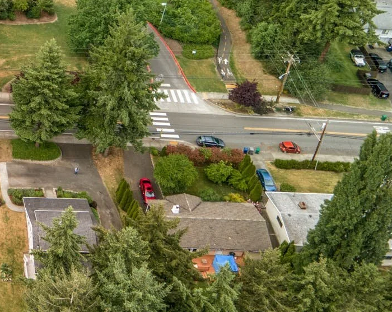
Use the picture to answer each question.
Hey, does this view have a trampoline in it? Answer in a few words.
No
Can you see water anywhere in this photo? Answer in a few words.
No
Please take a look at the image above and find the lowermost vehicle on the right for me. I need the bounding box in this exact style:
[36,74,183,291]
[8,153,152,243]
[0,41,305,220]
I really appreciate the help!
[257,165,276,188]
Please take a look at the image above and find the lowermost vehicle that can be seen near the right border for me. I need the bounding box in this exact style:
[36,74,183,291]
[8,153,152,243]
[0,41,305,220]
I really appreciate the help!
[370,76,392,95]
